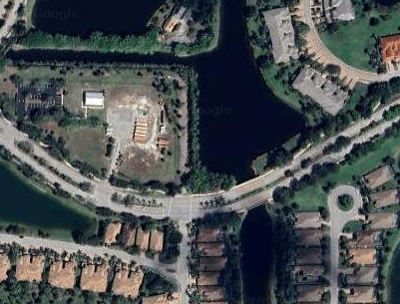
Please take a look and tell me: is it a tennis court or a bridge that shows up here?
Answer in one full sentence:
The one in the frame is a bridge.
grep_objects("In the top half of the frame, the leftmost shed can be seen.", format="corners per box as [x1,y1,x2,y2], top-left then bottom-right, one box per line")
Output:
[83,91,105,108]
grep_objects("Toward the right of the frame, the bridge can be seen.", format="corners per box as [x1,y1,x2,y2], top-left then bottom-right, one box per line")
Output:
[226,172,271,212]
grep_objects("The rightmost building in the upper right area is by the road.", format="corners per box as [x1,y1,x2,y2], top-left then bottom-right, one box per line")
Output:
[379,33,400,69]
